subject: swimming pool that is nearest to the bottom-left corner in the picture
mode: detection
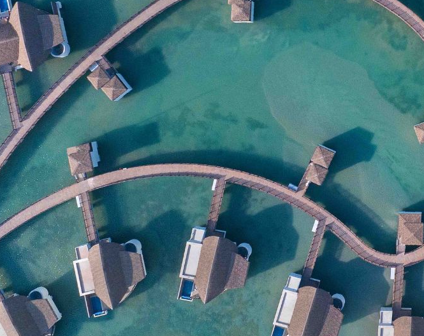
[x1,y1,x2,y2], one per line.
[88,291,109,316]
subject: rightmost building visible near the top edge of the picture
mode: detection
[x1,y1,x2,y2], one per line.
[228,0,256,23]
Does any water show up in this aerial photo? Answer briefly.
Yes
